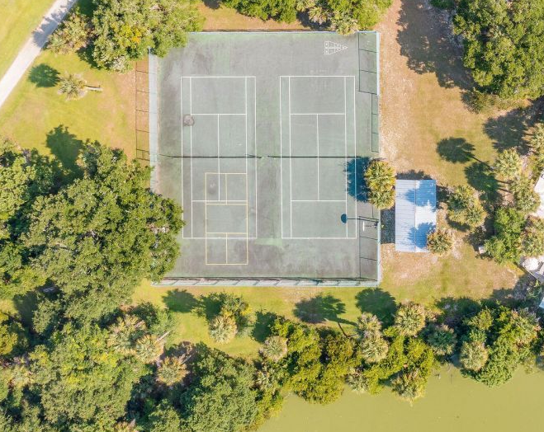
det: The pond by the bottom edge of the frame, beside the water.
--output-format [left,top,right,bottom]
[253,363,544,432]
